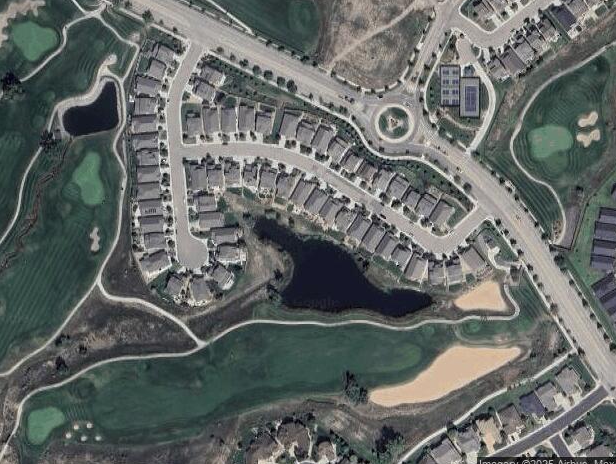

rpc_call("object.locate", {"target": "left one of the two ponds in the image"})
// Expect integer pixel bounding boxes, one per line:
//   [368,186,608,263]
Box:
[62,79,120,135]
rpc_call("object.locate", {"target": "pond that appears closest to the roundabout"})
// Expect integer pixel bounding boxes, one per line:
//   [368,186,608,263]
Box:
[254,218,432,316]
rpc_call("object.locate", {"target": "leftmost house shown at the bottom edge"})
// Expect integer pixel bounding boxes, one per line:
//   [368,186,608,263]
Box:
[247,434,278,464]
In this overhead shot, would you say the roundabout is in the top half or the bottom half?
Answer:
top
